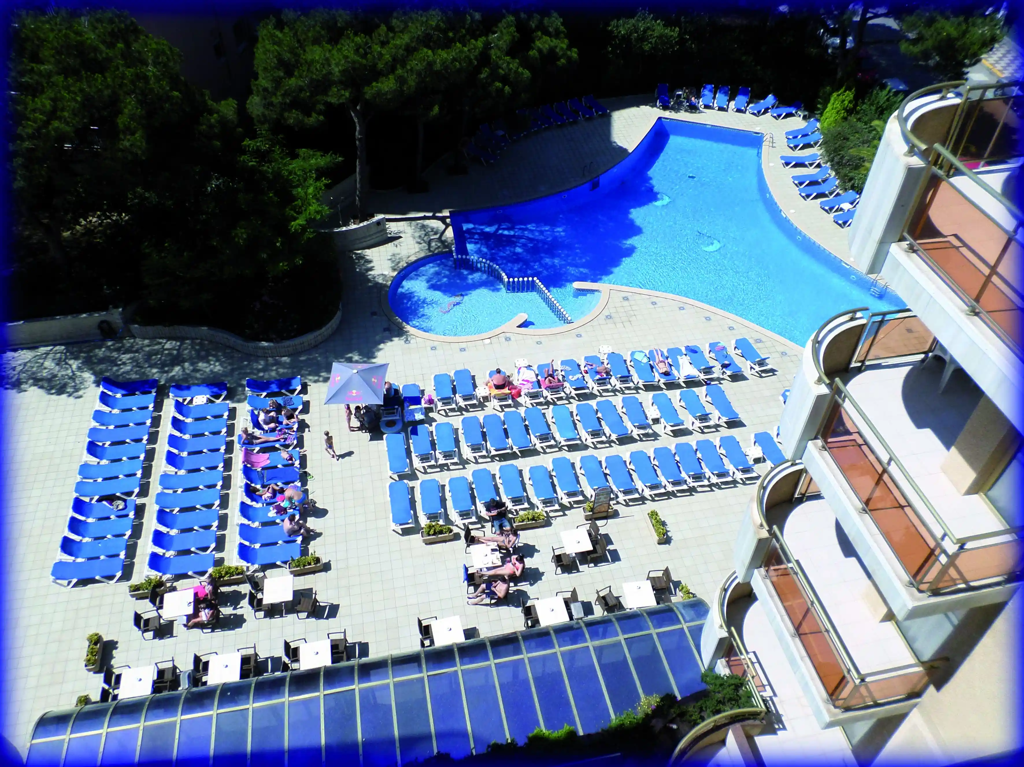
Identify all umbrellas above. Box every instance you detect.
[323,362,390,416]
